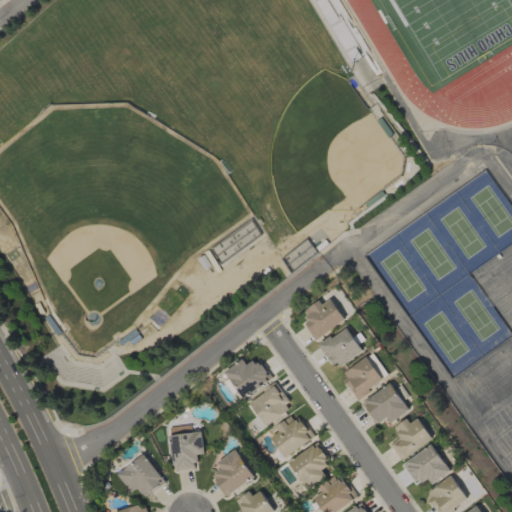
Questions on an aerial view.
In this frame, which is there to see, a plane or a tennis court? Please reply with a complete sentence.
Looking from above, you can make out a tennis court.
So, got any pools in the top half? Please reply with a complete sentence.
No, no pool appears in the top half.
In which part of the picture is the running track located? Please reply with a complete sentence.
Look in the top right portion of the view to spot the running track.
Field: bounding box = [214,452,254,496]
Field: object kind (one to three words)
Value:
house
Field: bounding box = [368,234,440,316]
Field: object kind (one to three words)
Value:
tennis court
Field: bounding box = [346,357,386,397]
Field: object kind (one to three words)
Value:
house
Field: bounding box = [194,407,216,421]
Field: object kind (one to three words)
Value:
swimming pool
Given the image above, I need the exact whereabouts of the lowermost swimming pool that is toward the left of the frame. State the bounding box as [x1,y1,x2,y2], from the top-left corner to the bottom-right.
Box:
[107,498,128,510]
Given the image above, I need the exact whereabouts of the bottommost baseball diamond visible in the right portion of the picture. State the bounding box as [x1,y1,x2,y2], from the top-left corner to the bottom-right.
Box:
[272,70,405,231]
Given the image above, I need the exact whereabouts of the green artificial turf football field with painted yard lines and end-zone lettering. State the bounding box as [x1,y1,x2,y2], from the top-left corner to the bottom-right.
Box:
[375,0,512,94]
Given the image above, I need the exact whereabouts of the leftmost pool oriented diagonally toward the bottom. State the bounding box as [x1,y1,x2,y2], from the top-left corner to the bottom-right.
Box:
[123,440,140,460]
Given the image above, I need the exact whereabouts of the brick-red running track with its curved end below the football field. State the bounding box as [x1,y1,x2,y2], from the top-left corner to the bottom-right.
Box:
[344,0,512,128]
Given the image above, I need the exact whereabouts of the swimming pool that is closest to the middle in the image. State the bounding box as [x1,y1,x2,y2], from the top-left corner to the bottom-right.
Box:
[218,382,234,402]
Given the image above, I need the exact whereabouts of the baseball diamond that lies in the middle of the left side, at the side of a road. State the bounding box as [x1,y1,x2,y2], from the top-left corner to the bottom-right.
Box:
[0,104,253,353]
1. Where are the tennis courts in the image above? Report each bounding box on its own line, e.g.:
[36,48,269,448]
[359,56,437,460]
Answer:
[410,294,484,376]
[368,234,440,316]
[441,273,512,354]
[458,170,512,251]
[428,192,500,272]
[398,213,470,294]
